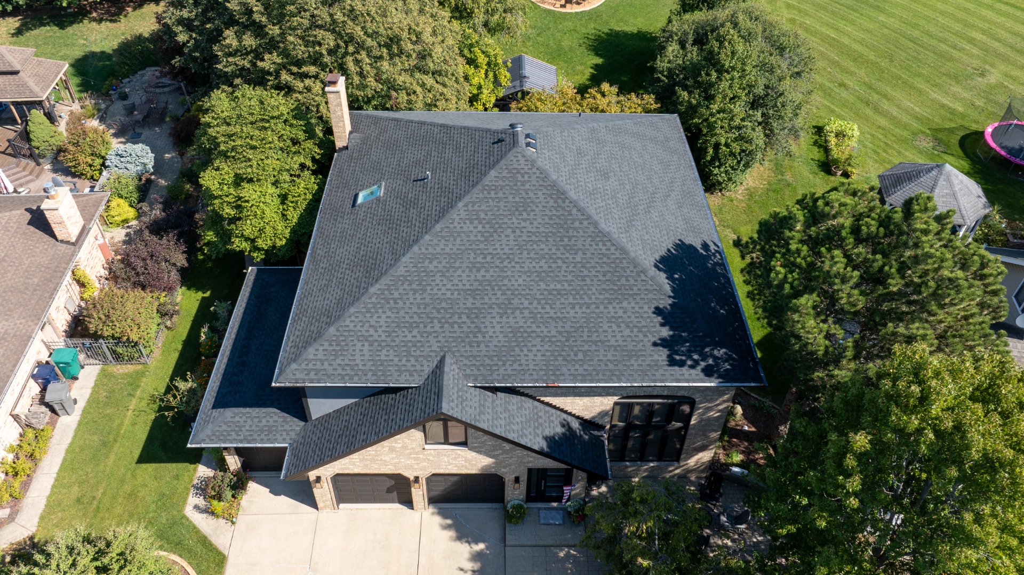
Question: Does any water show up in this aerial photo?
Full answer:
No, the scene doesn't show any water.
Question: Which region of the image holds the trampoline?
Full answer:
The trampoline is in the top right part of the image.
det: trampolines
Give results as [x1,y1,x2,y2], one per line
[978,91,1024,184]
